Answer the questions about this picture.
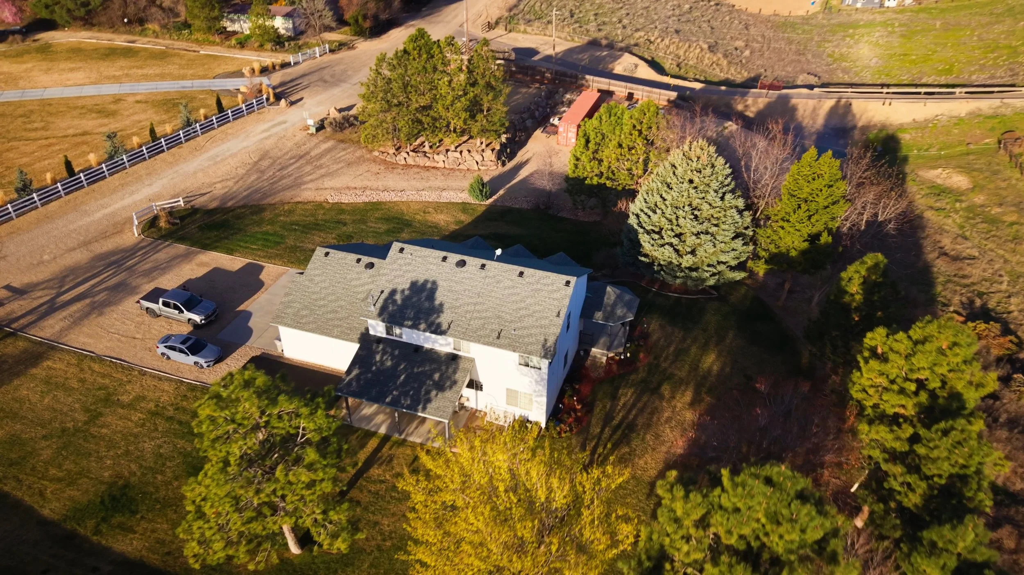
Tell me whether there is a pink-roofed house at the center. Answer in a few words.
No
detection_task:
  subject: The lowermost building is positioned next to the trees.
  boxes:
[270,234,644,445]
